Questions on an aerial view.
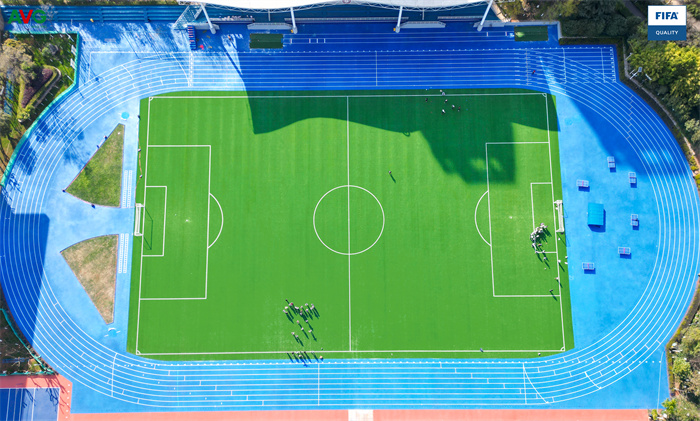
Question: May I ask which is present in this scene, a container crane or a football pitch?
football pitch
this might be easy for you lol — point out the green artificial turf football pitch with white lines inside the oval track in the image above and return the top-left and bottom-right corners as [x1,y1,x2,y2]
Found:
[124,89,577,360]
